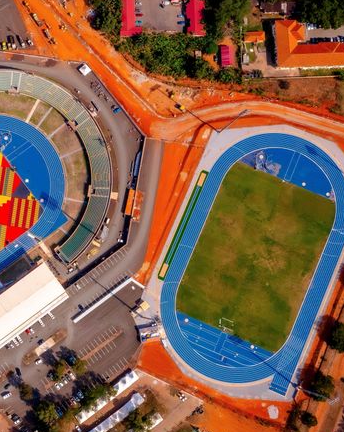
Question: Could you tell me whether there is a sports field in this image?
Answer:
Yes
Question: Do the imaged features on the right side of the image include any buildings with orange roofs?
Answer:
Yes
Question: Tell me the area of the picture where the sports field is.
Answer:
right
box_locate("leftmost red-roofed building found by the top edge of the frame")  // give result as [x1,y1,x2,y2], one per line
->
[120,0,142,38]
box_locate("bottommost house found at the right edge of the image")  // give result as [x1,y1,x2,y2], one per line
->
[271,20,344,69]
